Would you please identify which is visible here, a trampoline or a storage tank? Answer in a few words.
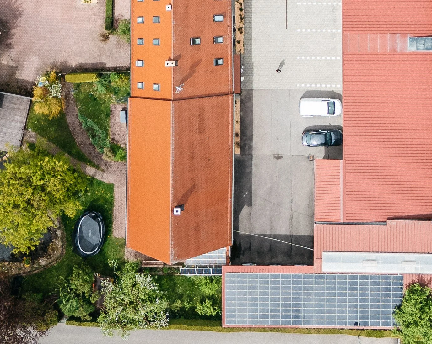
trampoline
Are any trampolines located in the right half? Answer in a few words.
No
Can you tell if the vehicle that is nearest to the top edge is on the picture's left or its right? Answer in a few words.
right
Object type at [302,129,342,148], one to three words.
car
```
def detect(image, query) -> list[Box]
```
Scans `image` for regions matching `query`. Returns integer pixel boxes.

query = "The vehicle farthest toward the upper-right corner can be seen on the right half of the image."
[299,97,341,117]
